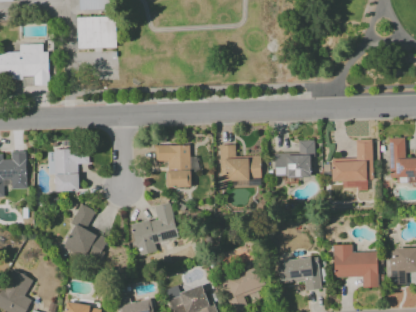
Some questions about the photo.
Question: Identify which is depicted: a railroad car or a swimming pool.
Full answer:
There is a swimming pool in the scene.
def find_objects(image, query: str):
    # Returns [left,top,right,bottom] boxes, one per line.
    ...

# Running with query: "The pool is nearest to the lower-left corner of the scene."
[70,280,92,294]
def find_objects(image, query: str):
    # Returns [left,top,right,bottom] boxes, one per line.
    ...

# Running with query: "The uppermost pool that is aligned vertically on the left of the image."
[38,168,50,194]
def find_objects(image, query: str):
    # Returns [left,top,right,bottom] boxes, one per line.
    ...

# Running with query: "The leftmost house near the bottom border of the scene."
[0,272,34,312]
